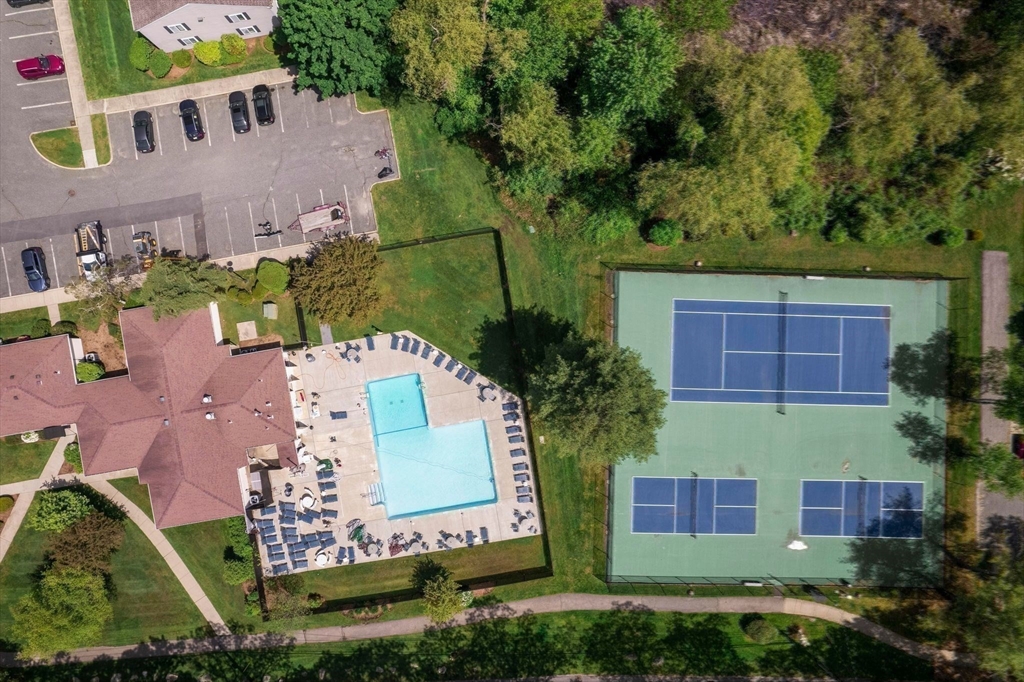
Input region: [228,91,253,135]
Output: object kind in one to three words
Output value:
car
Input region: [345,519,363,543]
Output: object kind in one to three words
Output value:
umbrella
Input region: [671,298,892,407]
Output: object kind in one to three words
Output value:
tennis court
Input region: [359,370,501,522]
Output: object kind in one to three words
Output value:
swimming pool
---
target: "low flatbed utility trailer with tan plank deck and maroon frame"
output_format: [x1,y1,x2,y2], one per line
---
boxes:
[287,203,352,233]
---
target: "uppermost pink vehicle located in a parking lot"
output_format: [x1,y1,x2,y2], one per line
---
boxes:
[18,55,65,81]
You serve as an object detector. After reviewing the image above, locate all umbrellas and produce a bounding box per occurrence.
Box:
[389,538,402,557]
[317,460,333,472]
[345,519,363,543]
[357,544,368,554]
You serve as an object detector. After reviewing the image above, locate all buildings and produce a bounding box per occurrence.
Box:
[0,300,309,529]
[129,0,283,53]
